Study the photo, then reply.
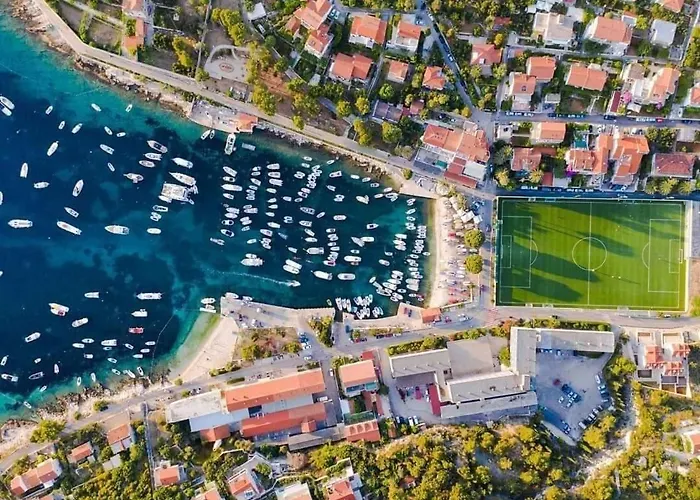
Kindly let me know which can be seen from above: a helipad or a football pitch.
football pitch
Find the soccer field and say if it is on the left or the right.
right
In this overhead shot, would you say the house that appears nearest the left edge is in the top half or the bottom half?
bottom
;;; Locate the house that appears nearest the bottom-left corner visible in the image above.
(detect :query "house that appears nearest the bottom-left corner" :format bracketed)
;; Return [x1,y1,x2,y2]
[6,454,69,494]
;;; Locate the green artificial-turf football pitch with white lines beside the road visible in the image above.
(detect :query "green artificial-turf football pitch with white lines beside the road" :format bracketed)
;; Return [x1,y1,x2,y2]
[497,198,687,311]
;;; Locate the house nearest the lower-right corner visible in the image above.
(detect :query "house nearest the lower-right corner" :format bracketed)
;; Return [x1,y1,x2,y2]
[658,356,688,384]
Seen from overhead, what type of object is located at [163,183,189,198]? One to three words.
boat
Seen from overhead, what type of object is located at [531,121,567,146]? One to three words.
house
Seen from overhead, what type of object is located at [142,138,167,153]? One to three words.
boat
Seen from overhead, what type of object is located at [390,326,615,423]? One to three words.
building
